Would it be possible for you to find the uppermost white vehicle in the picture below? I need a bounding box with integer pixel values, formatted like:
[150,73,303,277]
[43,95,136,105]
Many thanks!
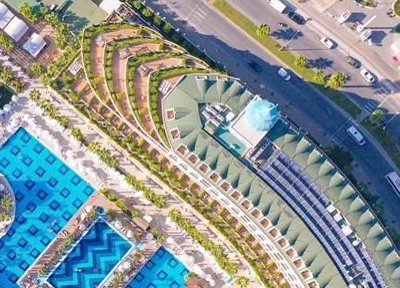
[267,0,290,13]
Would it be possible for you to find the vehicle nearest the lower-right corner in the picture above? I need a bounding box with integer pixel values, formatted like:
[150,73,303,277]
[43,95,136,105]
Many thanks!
[386,171,400,197]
